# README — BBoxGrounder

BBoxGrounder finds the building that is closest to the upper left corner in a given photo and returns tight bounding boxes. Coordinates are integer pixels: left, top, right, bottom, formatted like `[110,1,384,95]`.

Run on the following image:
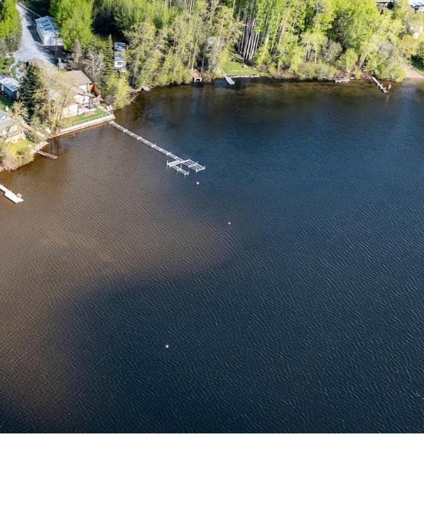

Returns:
[37,16,64,45]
